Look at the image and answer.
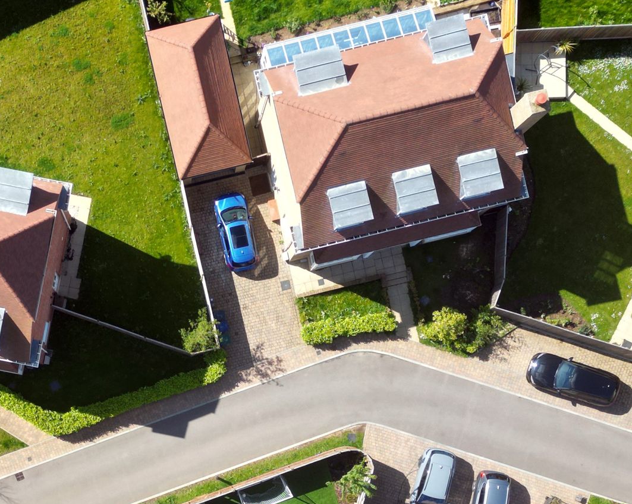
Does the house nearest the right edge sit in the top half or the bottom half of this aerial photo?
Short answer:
top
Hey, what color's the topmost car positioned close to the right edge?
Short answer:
black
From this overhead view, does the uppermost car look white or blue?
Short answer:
blue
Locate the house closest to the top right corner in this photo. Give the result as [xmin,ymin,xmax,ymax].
[251,2,551,269]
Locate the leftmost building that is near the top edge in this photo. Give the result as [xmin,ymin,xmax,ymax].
[145,13,254,185]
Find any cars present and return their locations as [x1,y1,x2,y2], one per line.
[409,447,453,504]
[213,193,254,275]
[523,355,619,404]
[472,469,510,504]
